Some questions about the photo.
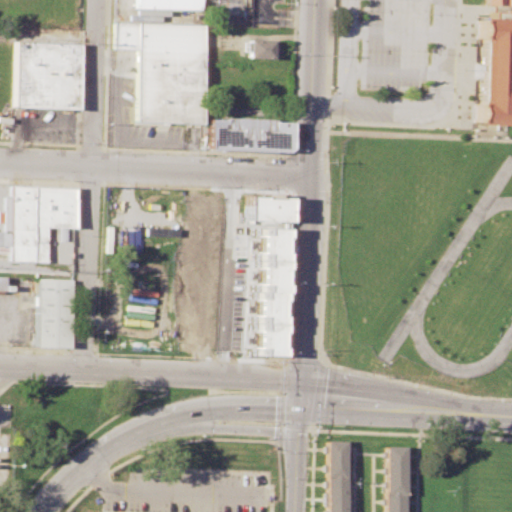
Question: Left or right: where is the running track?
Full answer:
The running track appears in the right half of the scene.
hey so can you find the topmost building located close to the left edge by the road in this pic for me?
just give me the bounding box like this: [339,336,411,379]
[14,43,86,111]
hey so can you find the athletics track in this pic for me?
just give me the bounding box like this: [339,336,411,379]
[382,149,512,374]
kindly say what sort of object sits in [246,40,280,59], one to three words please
house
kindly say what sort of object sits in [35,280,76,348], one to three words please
building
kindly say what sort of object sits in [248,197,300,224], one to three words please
building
